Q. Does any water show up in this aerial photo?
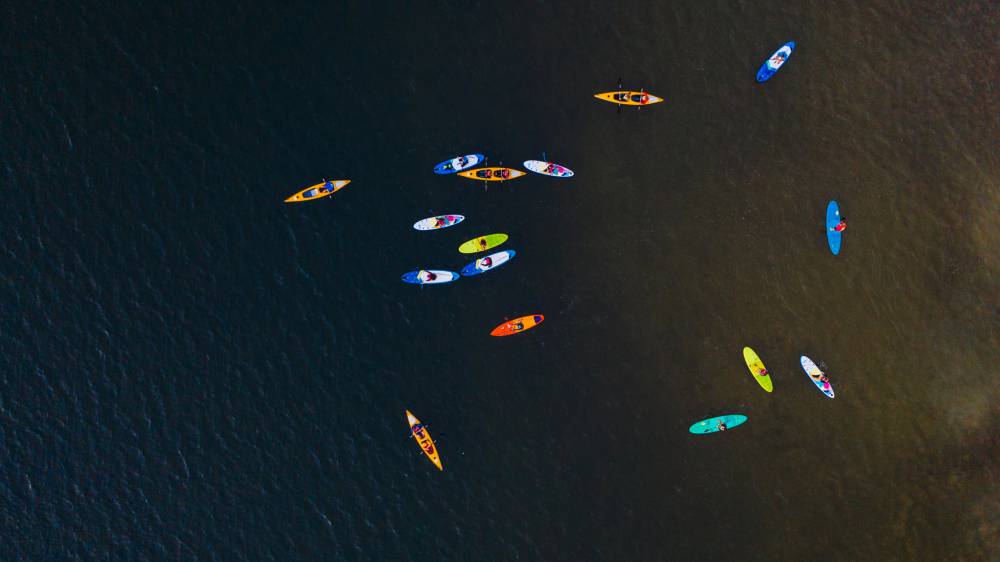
Yes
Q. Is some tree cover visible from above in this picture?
No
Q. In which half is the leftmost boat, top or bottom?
top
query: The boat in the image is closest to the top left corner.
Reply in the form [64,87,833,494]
[283,180,350,201]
